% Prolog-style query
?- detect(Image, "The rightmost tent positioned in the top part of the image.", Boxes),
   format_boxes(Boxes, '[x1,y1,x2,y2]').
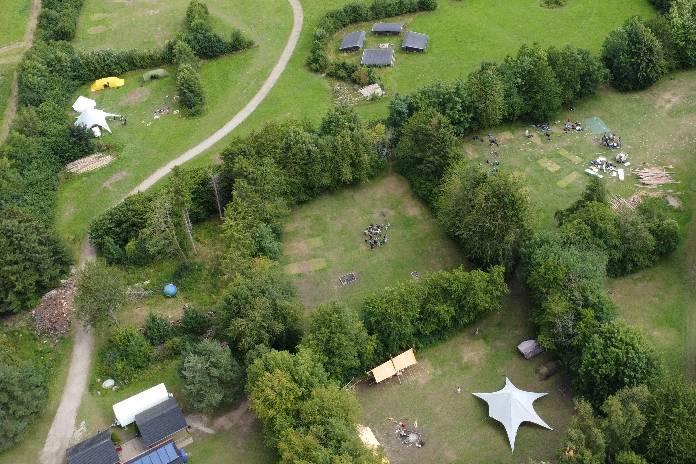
[139,67,172,88]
